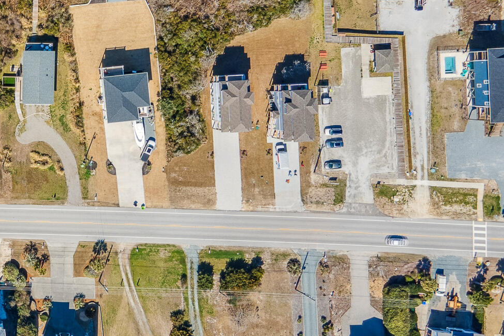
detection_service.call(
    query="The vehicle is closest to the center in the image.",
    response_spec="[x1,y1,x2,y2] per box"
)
[272,141,288,169]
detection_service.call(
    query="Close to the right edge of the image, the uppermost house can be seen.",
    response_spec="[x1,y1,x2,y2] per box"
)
[453,48,504,137]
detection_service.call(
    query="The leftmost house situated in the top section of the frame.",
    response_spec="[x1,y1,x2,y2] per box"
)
[15,43,54,104]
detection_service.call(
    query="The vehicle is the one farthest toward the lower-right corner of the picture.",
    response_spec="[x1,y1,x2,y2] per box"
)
[445,288,459,310]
